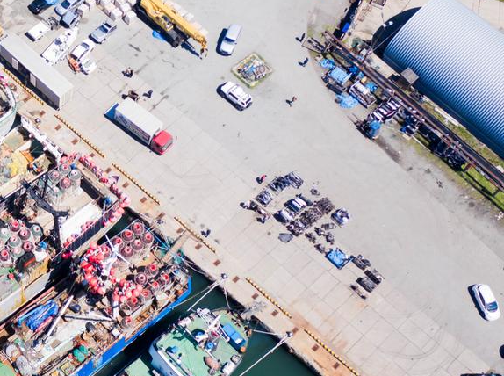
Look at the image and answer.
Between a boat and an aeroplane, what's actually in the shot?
boat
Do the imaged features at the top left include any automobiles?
Yes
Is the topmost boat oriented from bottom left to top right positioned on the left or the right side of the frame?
left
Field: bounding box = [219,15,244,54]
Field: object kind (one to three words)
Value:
vehicle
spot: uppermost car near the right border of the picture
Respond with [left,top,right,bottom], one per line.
[471,280,504,322]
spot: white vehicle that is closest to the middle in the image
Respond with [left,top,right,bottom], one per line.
[219,78,256,110]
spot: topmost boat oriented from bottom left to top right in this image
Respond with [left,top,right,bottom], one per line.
[40,21,82,58]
